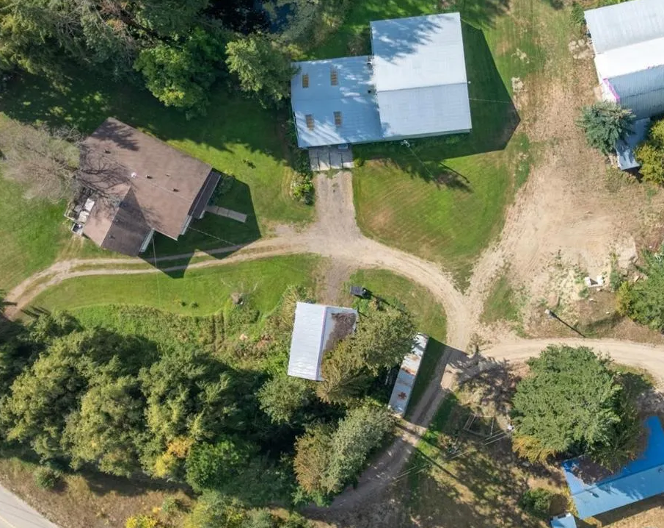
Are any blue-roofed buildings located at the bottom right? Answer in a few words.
Yes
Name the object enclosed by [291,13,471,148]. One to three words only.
building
